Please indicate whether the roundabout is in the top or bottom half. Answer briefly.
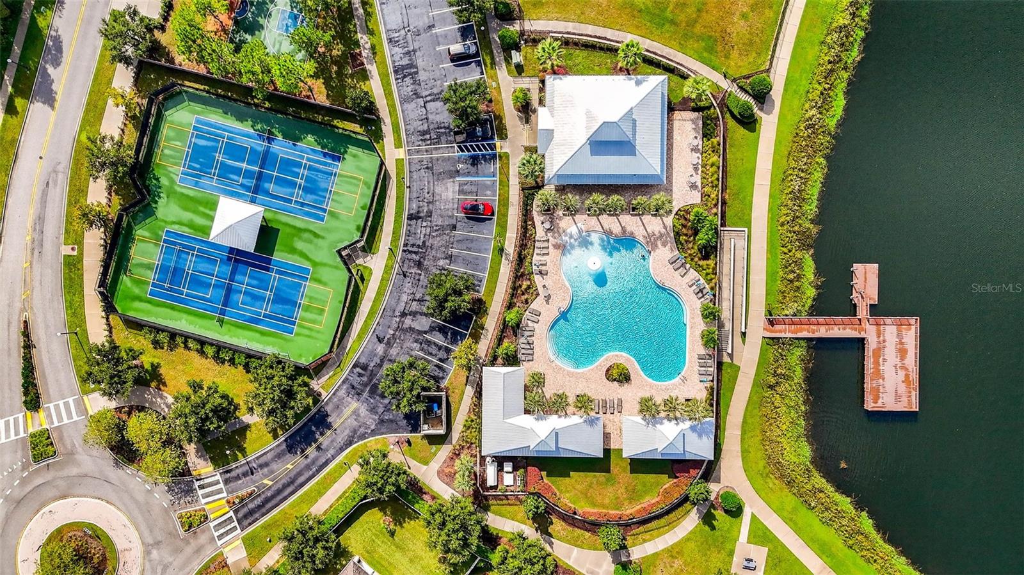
bottom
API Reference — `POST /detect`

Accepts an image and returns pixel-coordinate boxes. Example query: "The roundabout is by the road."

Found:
[14,495,145,575]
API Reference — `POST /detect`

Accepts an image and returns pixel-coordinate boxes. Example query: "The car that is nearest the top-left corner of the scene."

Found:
[447,43,478,61]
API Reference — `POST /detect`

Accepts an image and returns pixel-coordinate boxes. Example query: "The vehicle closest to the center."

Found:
[462,202,493,216]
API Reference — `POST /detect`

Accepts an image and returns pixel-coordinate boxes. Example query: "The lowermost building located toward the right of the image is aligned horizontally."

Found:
[623,416,714,460]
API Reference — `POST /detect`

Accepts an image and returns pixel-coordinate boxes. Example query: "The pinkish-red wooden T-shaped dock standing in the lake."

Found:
[763,317,920,409]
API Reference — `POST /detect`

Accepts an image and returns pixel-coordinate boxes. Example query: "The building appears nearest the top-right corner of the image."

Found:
[538,75,667,185]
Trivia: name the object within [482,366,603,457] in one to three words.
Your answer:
building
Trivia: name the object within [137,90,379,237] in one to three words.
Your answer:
tennis court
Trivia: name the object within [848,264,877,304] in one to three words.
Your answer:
pier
